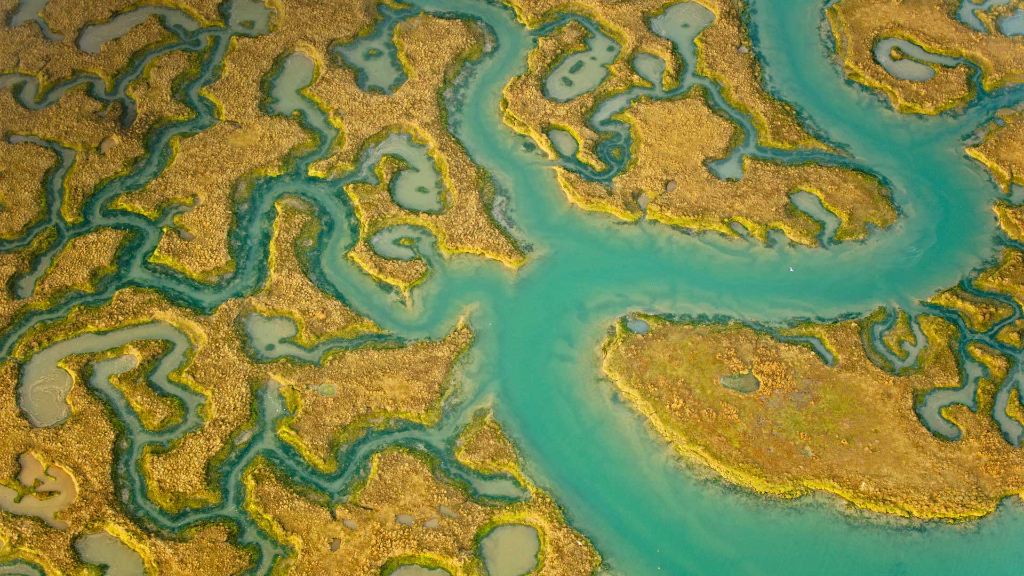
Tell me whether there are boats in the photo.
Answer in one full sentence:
No, I can see no boat in this picture.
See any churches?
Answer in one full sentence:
No, there appears to be no church in this shot.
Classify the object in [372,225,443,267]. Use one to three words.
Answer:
pond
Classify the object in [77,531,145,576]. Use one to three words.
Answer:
pond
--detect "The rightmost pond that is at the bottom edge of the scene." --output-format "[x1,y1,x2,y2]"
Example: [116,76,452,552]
[479,525,540,576]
